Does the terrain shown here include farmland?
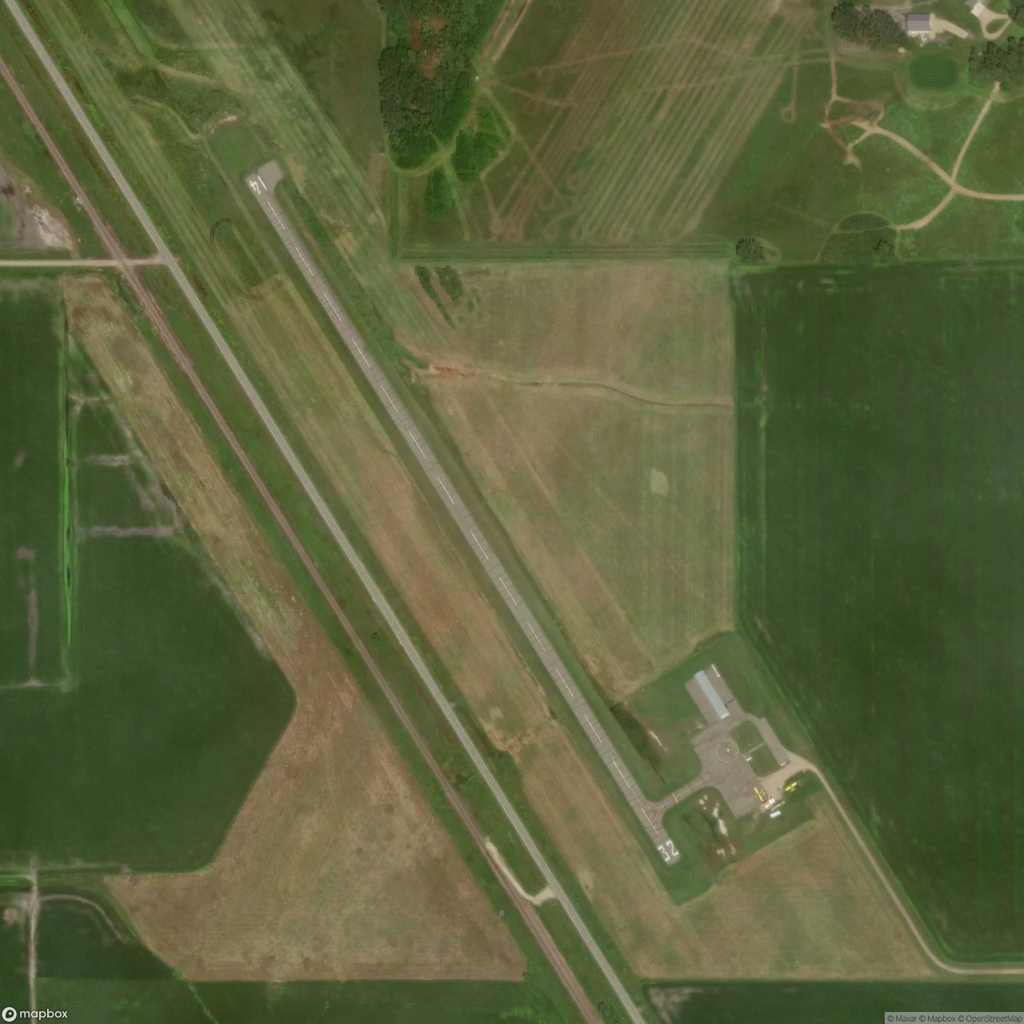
Yes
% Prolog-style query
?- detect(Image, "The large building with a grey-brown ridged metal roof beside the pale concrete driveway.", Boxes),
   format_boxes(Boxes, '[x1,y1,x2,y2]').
[907,13,931,40]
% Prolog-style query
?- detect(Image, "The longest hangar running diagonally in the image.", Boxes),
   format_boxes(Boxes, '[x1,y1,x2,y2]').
[693,671,730,718]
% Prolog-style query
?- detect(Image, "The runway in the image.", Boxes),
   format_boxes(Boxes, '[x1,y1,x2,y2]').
[245,161,680,864]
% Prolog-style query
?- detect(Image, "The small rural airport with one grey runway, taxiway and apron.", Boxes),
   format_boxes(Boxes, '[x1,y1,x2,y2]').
[245,161,790,864]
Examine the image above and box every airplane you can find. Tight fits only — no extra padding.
[785,782,797,791]
[754,787,765,801]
